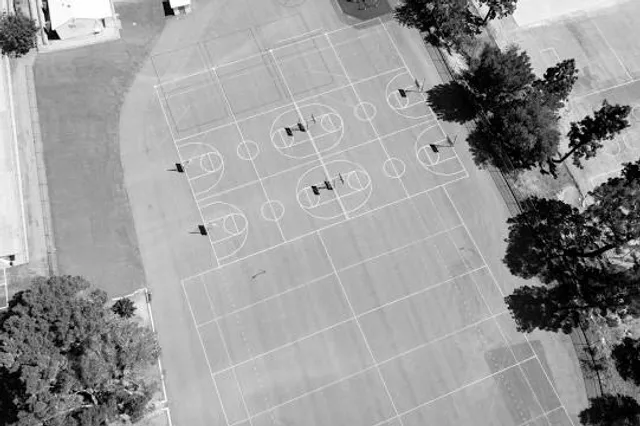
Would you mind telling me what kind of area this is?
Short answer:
sports ground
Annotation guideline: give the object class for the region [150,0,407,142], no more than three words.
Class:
sports court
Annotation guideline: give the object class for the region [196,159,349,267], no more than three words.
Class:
basketball court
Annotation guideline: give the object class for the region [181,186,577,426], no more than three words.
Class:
sports court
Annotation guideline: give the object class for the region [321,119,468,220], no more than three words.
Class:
basketball court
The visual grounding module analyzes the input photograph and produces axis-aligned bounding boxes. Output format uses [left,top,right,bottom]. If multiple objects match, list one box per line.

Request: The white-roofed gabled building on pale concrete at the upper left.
[46,0,124,42]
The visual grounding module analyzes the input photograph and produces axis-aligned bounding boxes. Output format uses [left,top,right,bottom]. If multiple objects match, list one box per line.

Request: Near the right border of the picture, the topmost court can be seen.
[488,0,640,211]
